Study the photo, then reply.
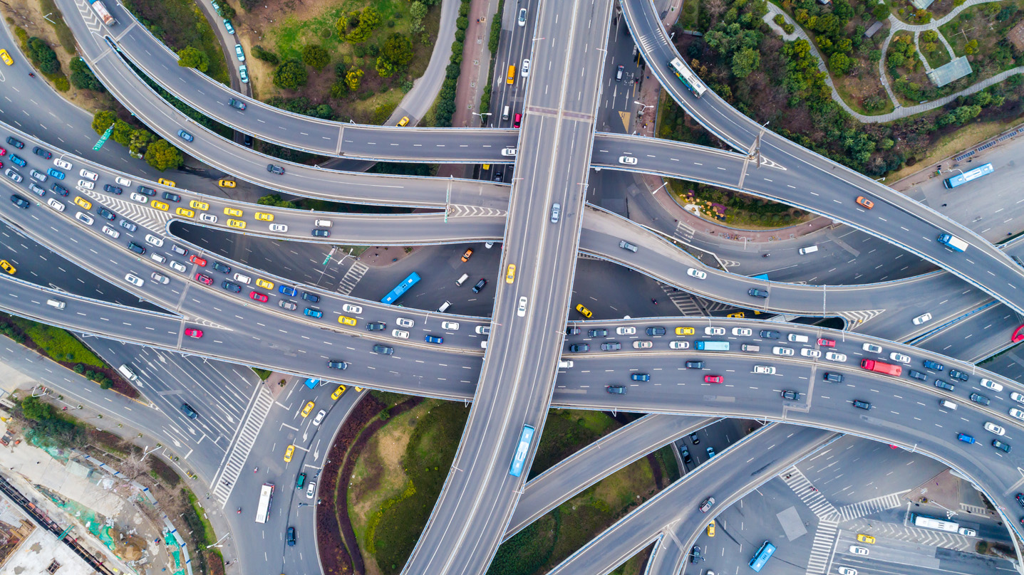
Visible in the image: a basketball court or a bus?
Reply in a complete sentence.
The one in the frame is a bus.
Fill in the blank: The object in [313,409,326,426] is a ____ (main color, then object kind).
white vehicle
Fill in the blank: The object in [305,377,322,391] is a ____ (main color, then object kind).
blue vehicle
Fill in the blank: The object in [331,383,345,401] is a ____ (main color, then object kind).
yellow car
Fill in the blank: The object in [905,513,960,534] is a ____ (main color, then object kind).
white bus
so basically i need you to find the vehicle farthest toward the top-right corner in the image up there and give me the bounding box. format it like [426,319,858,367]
[938,163,996,190]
